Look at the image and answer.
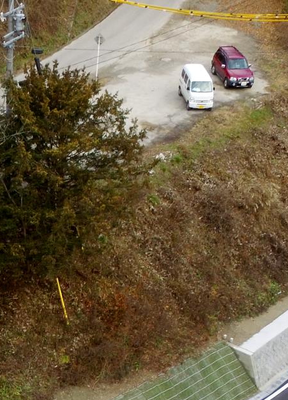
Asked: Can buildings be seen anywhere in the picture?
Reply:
No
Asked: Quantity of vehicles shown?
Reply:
two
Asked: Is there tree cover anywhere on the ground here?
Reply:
Yes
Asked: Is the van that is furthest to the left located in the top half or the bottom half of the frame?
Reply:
top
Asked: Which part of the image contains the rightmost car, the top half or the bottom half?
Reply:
top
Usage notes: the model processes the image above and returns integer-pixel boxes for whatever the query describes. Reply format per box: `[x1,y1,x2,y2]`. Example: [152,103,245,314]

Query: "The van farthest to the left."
[183,55,220,101]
